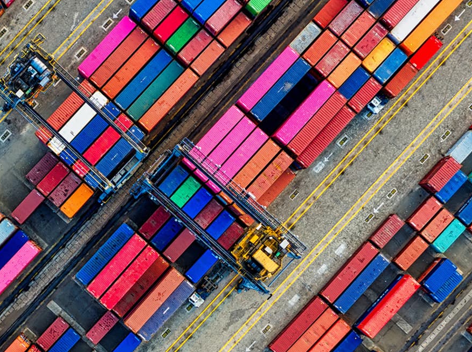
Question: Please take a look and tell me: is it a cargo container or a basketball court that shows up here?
cargo container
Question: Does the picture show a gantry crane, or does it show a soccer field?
gantry crane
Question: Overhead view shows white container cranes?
No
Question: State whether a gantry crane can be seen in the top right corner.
No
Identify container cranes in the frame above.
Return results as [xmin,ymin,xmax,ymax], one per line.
[130,136,307,299]
[0,31,160,207]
